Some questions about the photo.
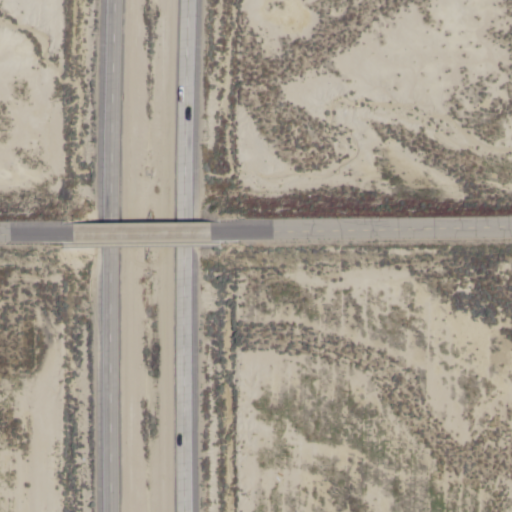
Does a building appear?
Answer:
No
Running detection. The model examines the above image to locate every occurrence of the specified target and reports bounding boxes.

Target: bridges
[58,222,227,248]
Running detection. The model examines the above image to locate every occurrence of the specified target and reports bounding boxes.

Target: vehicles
[177,434,182,446]
[180,88,184,100]
[186,108,191,119]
